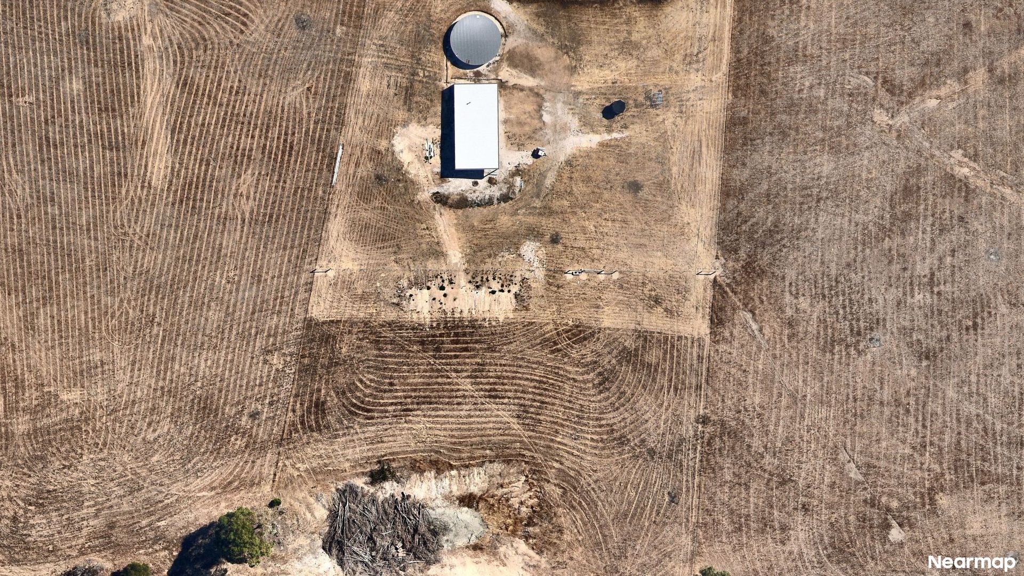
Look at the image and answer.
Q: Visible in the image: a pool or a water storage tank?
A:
water storage tank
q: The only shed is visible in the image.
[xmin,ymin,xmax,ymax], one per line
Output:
[455,83,499,169]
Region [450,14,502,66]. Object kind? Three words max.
water tank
